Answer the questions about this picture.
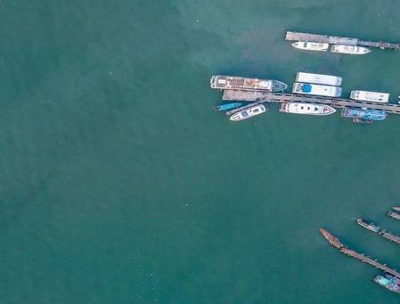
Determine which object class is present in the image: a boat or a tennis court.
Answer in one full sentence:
This aerial view contains a boat.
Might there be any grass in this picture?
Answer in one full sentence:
No, there is no grass in the image.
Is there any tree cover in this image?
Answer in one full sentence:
No, the scene doesn't show any tree cover.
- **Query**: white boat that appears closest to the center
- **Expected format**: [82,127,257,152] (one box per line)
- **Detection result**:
[230,104,267,120]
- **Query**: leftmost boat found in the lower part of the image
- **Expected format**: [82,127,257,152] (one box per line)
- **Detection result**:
[321,229,343,248]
